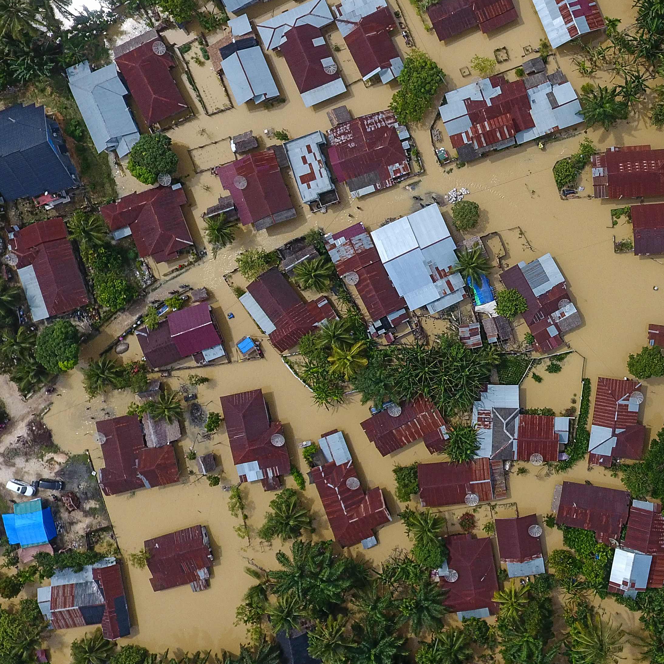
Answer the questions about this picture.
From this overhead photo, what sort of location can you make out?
residential area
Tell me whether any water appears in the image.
Yes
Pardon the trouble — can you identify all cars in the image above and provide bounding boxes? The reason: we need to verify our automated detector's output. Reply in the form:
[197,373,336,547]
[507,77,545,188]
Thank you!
[31,478,63,494]
[1,478,34,498]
